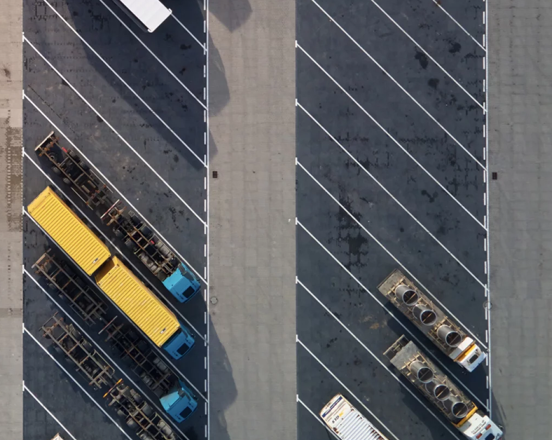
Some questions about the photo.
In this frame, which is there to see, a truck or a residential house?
truck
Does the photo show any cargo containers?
Yes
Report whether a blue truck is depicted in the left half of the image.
Yes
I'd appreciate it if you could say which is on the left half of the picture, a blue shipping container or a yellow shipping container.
yellow shipping container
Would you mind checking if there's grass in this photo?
No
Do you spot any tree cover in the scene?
No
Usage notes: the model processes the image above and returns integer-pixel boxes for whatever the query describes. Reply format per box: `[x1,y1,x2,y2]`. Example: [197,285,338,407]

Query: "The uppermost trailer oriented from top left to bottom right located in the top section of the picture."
[35,131,112,212]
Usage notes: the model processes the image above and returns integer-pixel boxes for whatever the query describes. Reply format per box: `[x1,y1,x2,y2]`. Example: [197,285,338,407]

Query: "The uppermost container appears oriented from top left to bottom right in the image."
[28,187,111,275]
